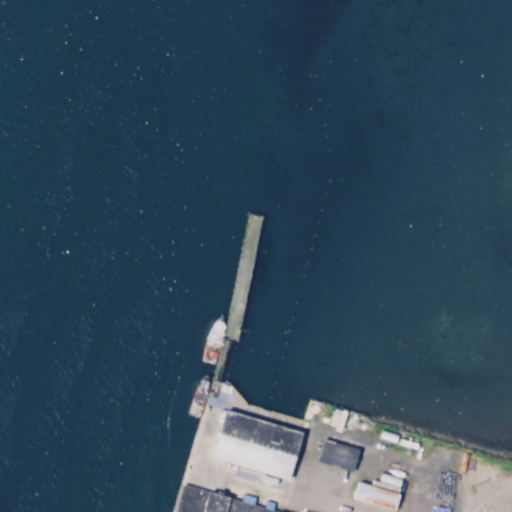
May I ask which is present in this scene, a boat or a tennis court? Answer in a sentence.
Looking from above, you can make out a boat.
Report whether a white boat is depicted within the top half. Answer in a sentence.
No, I see no white boat within the top half.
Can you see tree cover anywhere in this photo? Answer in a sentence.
No, the picture contains no tree cover.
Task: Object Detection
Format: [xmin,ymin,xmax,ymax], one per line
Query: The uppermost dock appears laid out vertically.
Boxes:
[225,213,264,342]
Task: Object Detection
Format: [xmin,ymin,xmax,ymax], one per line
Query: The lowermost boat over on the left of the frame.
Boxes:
[188,376,210,418]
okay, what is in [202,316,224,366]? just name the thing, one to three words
boat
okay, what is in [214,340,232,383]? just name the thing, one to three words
pier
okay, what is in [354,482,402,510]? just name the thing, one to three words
shed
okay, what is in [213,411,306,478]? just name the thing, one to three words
building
